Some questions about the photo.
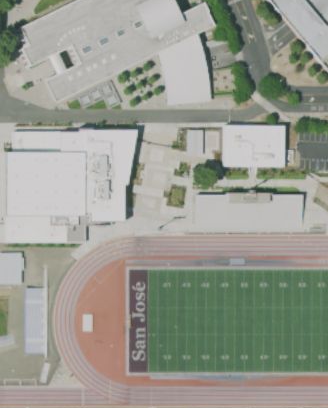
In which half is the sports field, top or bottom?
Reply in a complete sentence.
Seen from above, the sports field lies in the bottom half of the view.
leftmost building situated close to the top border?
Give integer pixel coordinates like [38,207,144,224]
[22,0,216,105]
